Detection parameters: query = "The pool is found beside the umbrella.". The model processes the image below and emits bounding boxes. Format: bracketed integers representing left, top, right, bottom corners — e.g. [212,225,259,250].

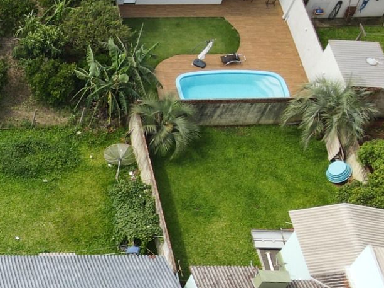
[178,70,290,98]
